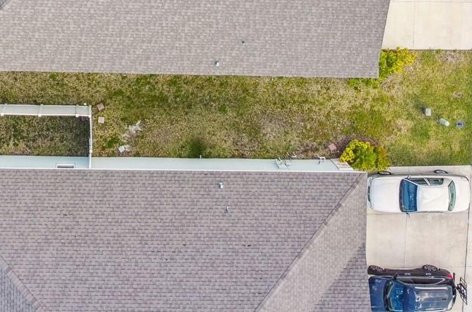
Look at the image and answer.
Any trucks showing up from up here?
No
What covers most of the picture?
buildings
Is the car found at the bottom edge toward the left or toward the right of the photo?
right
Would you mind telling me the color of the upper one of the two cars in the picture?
white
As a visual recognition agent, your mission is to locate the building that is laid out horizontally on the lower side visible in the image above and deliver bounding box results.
[0,157,372,312]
